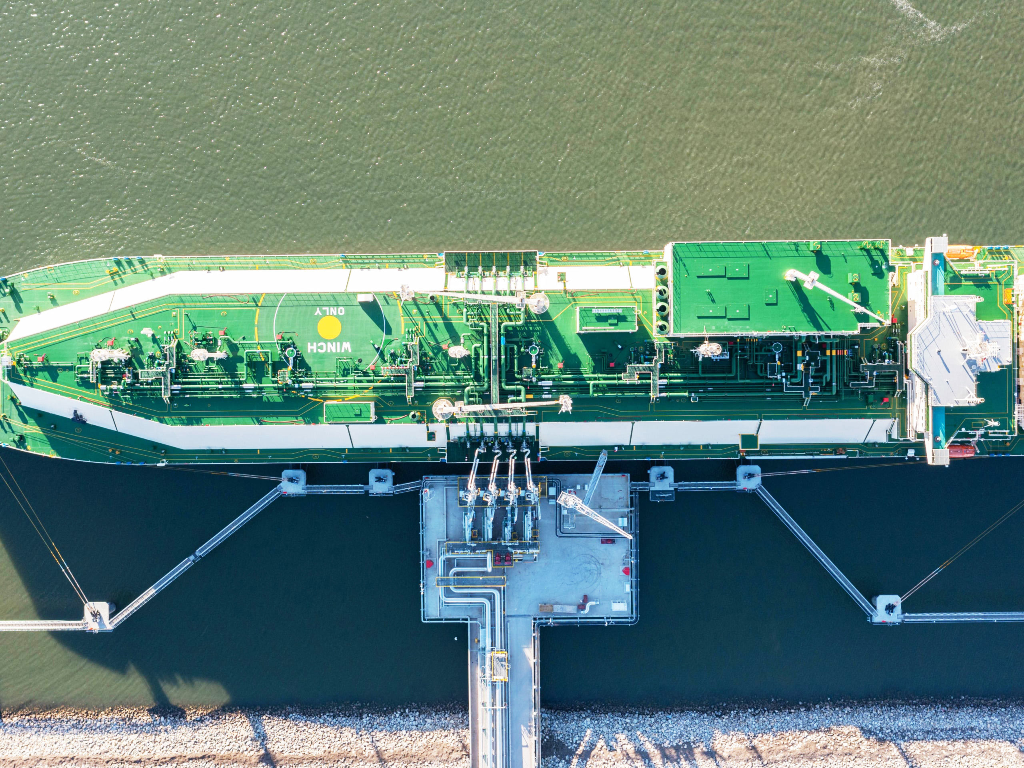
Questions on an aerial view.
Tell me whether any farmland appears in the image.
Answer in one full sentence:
No, no farmland is visible.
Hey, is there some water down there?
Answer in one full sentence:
Yes, some water is visible.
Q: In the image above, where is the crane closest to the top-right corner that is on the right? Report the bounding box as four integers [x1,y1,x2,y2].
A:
[782,270,891,327]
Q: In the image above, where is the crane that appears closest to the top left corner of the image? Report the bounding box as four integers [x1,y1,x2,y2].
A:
[416,291,550,317]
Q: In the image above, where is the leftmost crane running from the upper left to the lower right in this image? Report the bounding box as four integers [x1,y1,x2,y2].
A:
[552,485,632,539]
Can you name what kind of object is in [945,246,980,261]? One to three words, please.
boat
